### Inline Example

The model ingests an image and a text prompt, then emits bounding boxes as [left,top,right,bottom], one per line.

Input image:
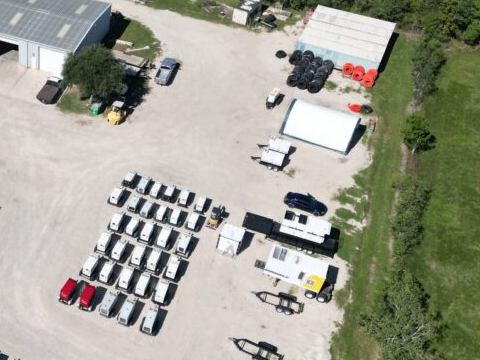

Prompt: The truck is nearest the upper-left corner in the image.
[34,76,68,105]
